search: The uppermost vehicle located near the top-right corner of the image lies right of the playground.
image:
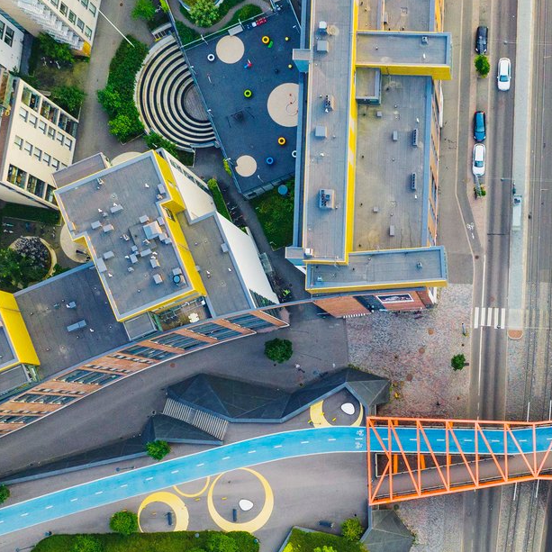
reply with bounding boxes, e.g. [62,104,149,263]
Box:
[474,24,490,59]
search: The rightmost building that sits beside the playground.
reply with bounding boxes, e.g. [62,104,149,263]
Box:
[285,0,453,319]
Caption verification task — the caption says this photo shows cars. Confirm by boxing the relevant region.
[474,24,490,59]
[471,109,487,143]
[470,142,487,178]
[496,56,513,92]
